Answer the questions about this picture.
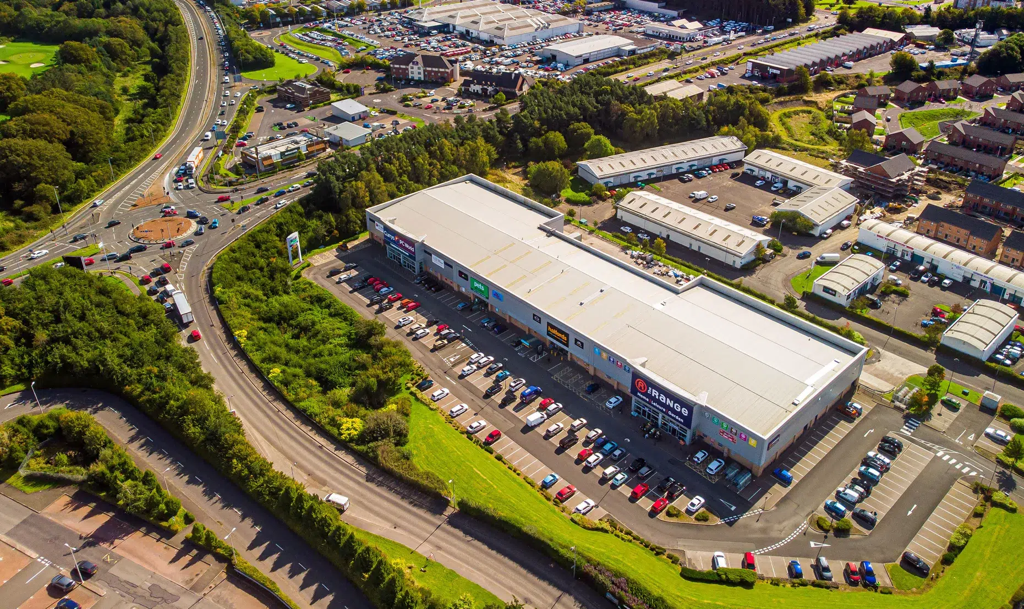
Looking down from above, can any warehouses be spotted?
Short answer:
Yes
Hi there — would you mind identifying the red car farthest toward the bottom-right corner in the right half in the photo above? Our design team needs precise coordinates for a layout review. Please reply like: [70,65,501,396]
[844,563,861,585]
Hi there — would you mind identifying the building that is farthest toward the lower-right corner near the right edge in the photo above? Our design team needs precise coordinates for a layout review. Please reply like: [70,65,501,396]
[981,382,1004,412]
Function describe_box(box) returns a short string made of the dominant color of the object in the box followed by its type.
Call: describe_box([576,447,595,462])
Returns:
red car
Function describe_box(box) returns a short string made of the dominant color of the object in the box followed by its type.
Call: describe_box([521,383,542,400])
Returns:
blue vehicle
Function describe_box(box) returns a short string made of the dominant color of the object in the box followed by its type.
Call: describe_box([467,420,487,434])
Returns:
white car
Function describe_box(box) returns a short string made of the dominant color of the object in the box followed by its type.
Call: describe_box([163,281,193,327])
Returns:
white truck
